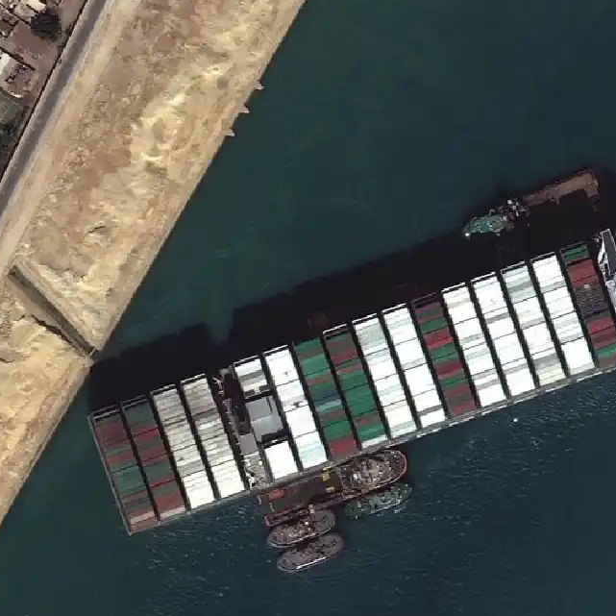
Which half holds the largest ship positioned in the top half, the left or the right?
right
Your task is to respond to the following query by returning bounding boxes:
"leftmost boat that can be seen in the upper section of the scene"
[462,198,521,239]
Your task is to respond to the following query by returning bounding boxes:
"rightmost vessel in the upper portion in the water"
[524,169,605,238]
